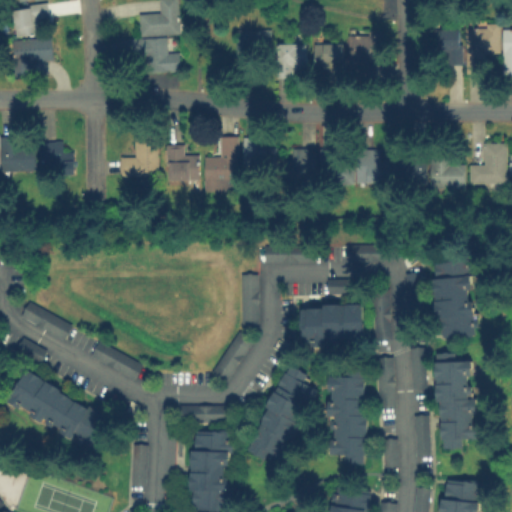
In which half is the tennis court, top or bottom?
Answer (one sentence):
The tennis court is in the bottom half of the image.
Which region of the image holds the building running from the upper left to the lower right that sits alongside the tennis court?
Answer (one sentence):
Look in the bottom left portion of the view to spot the building running from the upper left to the lower right that sits alongside the tennis court.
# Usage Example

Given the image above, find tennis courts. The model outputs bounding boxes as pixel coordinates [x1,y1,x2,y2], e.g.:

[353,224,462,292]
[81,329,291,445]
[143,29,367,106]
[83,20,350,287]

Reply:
[18,470,113,512]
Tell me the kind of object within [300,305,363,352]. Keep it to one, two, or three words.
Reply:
building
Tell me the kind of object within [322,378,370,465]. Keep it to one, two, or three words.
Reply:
building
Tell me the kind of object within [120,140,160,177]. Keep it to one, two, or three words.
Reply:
house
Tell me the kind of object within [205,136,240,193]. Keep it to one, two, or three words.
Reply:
house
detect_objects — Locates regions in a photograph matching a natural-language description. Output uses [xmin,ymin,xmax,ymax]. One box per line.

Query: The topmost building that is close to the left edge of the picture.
[12,4,50,38]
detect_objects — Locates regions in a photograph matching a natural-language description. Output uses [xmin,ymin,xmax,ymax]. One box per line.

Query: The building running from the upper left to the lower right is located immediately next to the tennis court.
[8,372,96,442]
